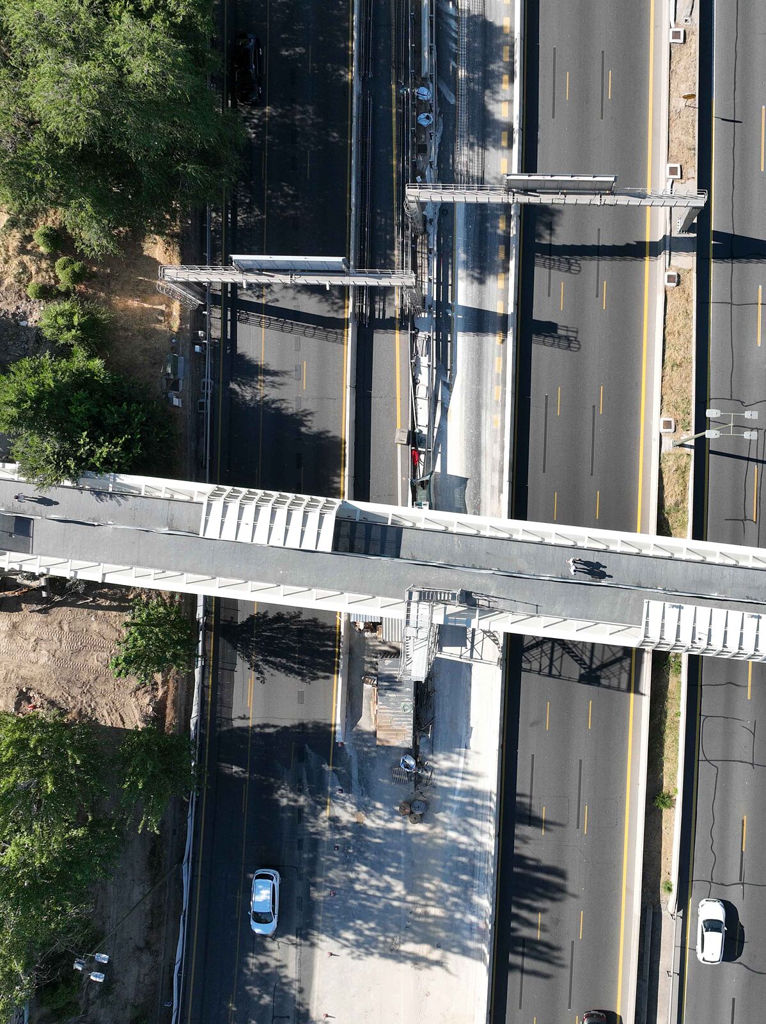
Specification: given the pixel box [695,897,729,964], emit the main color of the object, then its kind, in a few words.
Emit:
white car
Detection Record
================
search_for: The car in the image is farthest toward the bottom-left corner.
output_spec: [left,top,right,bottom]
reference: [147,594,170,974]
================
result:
[248,867,280,934]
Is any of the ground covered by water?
No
